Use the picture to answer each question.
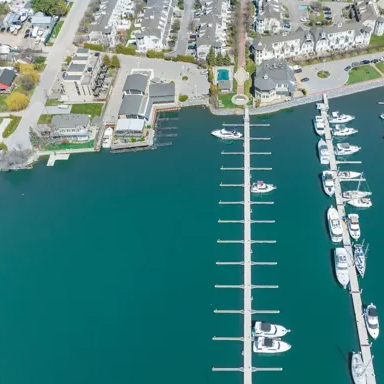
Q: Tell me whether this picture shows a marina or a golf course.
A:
marina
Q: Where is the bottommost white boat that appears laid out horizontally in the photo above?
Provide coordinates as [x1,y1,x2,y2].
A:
[251,337,291,354]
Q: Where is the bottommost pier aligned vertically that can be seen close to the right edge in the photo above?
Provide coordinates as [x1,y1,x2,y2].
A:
[317,102,376,384]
